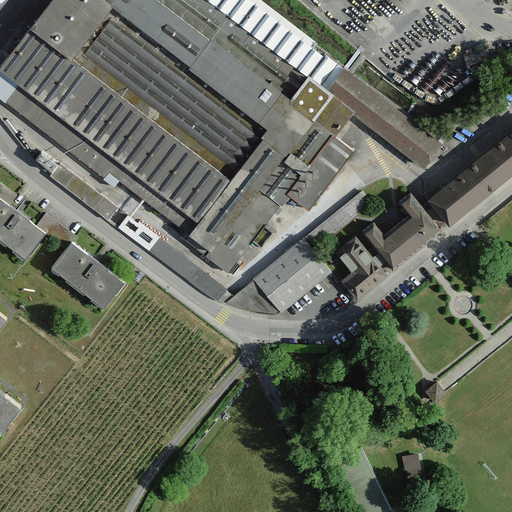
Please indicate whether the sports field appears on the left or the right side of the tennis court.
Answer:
right of it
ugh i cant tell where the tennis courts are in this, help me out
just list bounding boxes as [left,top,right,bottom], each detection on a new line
[336,446,392,512]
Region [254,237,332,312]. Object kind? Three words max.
shed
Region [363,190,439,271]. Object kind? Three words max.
building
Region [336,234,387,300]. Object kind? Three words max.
house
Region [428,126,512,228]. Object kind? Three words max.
building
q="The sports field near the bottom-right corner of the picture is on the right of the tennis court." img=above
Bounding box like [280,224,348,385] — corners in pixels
[421,343,512,512]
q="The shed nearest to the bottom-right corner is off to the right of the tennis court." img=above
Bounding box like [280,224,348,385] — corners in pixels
[402,454,421,478]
